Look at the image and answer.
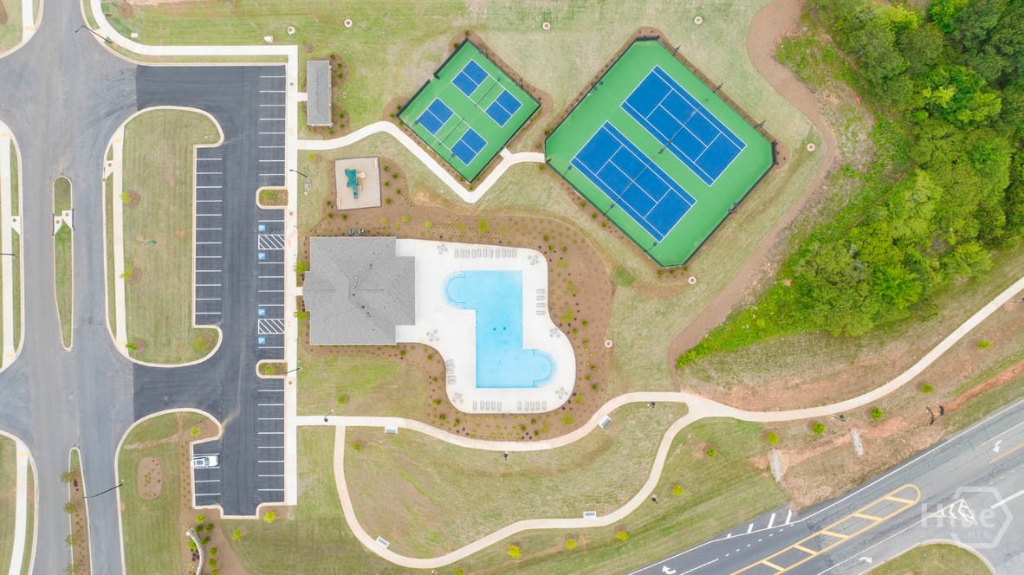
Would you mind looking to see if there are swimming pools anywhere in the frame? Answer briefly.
Yes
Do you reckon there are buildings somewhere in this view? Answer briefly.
Yes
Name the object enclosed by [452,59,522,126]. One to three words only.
sports court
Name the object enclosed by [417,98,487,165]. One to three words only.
sports court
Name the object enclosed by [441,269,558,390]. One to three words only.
swimming pool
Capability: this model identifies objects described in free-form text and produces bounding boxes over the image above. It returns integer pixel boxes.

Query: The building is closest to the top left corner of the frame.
[306,59,333,128]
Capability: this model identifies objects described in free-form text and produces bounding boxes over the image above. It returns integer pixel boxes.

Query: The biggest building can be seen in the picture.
[302,236,416,345]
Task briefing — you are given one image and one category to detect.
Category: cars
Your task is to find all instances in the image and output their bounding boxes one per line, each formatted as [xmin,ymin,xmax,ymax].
[191,455,219,467]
